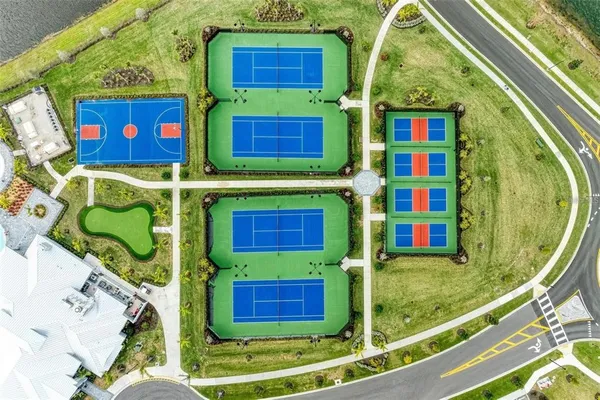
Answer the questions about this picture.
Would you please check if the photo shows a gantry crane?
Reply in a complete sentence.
No, no gantry crane can be seen from above.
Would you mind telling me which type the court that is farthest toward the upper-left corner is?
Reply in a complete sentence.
It looks like the court that is farthest toward the upper-left corner is a basketball court.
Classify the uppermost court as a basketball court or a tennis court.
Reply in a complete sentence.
The uppermost court in the image is a tennis court.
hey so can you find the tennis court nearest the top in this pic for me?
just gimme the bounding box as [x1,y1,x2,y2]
[209,33,347,102]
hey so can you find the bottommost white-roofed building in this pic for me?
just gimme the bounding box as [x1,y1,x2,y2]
[0,234,129,400]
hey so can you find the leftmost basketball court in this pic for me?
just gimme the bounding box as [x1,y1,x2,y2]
[76,98,185,165]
